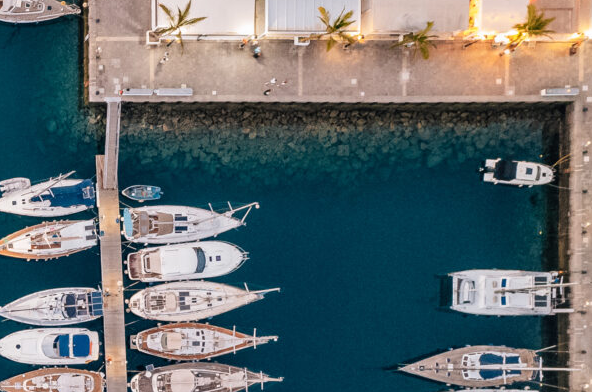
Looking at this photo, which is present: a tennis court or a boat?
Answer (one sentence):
There is a boat in the scene.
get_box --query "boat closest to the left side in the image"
[0,177,31,195]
